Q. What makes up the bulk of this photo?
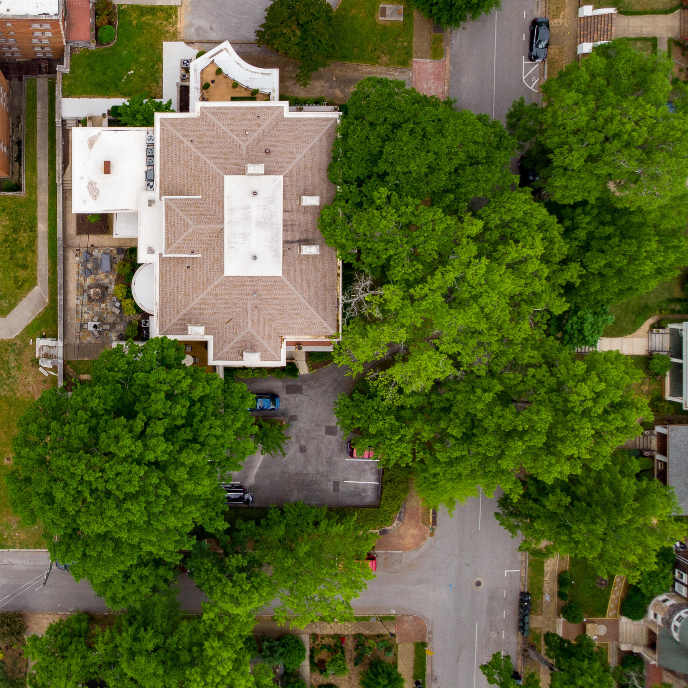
trees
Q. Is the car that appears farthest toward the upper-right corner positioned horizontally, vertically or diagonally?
vertically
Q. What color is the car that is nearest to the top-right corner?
black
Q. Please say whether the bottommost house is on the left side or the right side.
right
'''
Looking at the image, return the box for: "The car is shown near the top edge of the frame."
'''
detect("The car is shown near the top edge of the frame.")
[527,17,549,62]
